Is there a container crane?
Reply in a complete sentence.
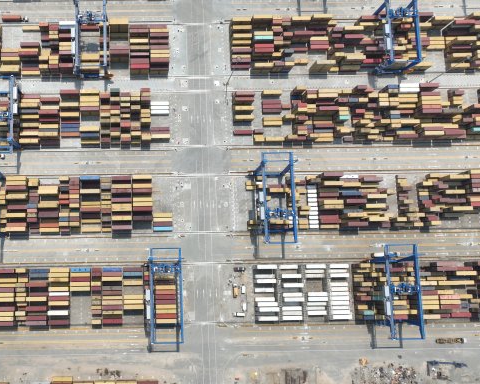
Yes, there's a container crane down there.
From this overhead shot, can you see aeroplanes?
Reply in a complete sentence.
No, there isn't any aeroplane down there.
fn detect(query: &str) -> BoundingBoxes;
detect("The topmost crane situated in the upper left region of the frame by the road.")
[71,0,112,78]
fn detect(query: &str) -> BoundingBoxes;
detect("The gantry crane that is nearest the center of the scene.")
[248,152,299,243]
